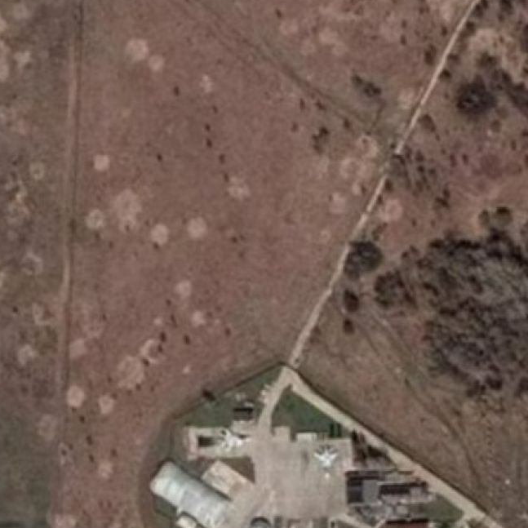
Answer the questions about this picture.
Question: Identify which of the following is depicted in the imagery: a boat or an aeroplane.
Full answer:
Of the two, only an aeroplane appears.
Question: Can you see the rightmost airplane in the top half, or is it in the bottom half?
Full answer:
The bottom half of the photo is where the rightmost airplane is.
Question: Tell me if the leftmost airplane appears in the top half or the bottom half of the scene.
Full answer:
Seen from above, the leftmost airplane lies in the bottom half of the view.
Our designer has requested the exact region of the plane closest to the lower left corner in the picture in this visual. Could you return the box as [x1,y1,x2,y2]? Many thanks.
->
[215,428,247,449]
